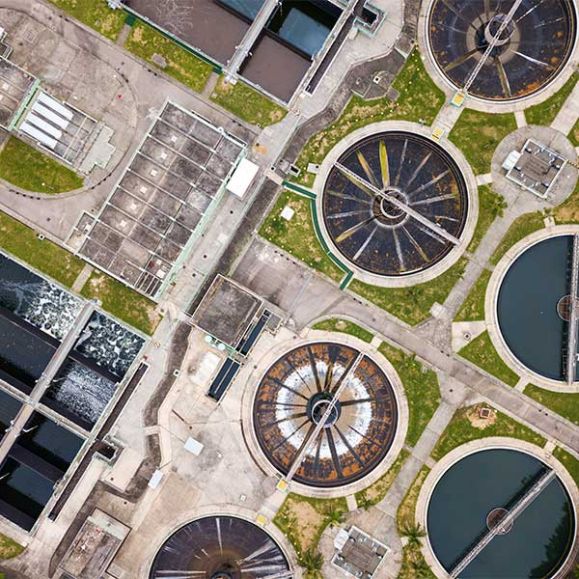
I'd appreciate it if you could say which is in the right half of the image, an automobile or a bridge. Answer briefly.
bridge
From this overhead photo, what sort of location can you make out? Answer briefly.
industrial area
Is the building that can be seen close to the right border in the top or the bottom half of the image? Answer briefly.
top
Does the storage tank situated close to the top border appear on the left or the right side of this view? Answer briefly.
right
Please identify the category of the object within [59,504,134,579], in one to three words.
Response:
building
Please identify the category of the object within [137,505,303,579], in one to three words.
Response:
storage tank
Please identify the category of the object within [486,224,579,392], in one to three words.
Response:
storage tank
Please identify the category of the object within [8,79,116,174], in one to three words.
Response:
house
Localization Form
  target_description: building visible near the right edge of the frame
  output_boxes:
[505,140,566,199]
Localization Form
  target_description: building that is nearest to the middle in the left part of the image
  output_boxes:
[192,275,261,344]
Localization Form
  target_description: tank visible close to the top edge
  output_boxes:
[418,0,579,113]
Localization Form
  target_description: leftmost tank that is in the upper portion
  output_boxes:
[314,121,479,286]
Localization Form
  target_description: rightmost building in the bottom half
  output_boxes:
[331,523,391,579]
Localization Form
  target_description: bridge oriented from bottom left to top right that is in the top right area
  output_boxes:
[460,0,524,92]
